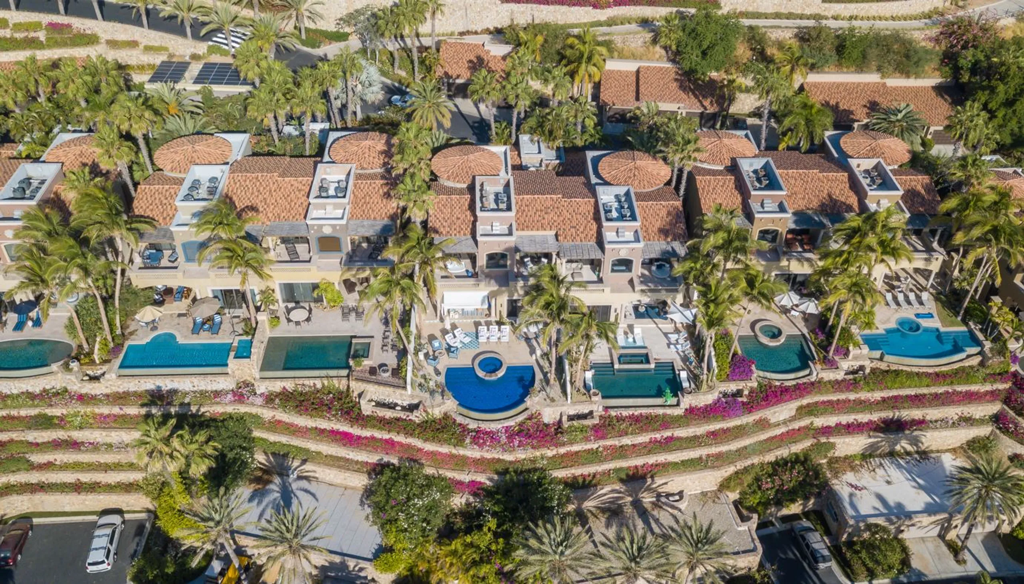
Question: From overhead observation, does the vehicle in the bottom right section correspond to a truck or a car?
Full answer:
I'd identify the vehicle in the bottom right section as a car.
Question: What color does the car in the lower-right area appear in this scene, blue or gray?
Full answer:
The car in the lower-right area looks gray in the image.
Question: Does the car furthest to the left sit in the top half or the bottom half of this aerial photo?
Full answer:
The car furthest to the left is in the bottom half of the image.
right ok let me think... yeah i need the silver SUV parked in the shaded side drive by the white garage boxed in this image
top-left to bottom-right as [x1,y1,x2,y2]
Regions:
[786,516,839,579]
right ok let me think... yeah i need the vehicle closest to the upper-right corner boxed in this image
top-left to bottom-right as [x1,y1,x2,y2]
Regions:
[728,113,757,138]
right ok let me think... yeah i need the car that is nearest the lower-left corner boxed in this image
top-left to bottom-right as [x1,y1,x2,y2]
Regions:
[0,513,41,573]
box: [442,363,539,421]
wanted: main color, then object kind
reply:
blue swimming pool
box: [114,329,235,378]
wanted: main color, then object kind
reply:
blue swimming pool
